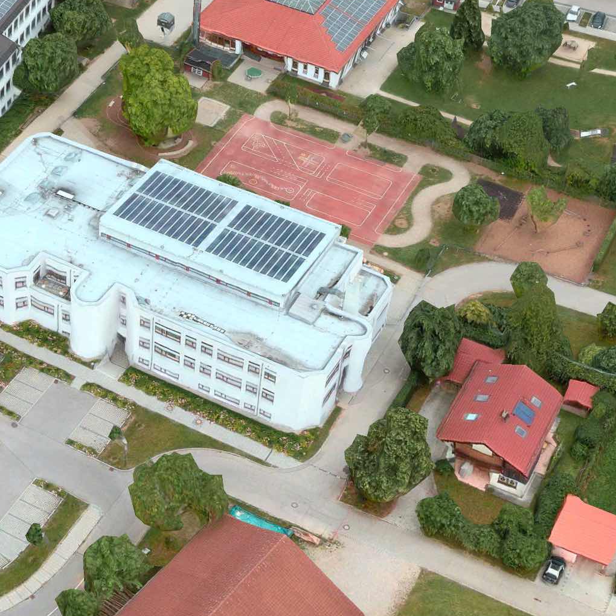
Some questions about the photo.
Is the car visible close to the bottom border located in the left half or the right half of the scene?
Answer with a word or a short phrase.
right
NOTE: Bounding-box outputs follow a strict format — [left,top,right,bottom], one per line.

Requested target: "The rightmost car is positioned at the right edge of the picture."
[591,10,607,29]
